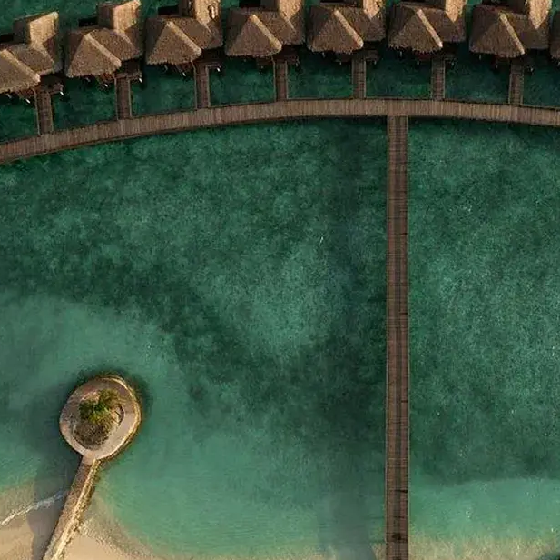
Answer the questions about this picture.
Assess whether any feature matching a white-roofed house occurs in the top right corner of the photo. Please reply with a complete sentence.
No, I can find no white-roofed house in the top right corner of the photo.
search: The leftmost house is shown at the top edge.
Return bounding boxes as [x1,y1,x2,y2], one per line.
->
[0,11,72,111]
